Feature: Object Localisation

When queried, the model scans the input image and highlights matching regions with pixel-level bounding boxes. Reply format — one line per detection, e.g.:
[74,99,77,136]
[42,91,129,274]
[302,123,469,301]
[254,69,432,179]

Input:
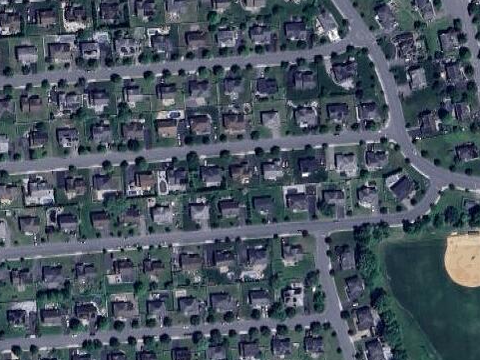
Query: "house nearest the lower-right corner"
[365,340,388,360]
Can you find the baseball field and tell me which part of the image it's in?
bottom right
